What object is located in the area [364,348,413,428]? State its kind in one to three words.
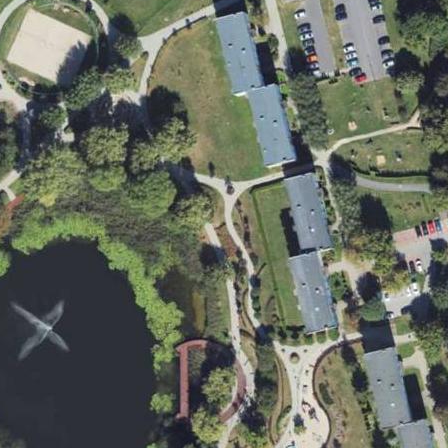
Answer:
building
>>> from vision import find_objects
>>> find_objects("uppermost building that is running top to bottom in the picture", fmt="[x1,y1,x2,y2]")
[216,13,263,96]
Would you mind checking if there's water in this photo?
Yes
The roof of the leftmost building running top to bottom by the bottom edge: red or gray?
gray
